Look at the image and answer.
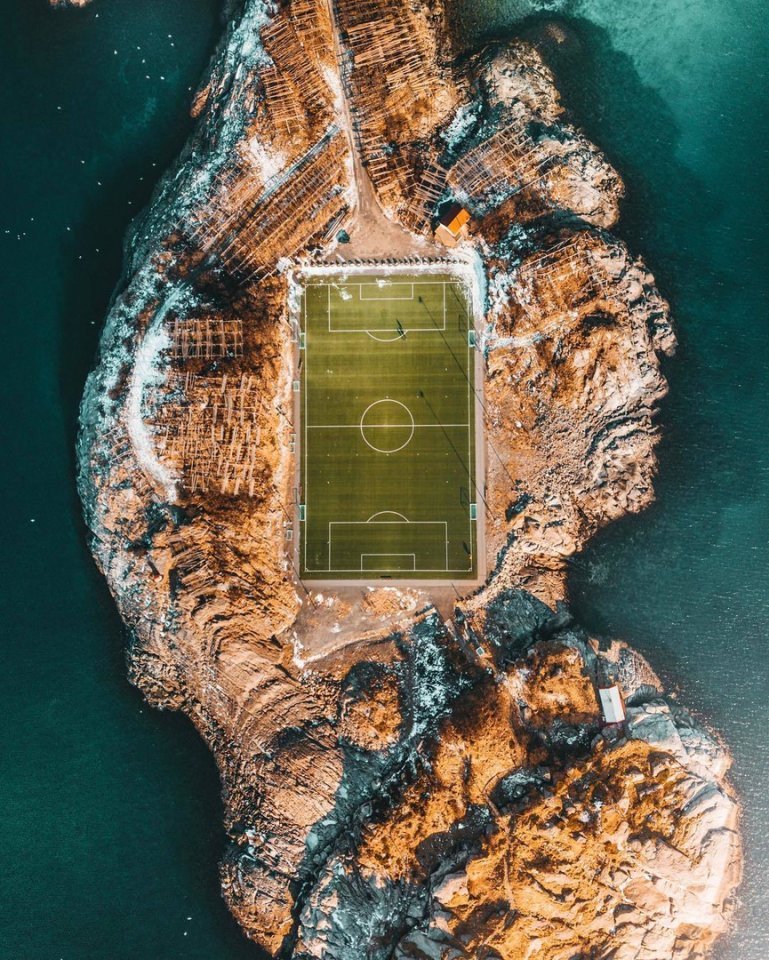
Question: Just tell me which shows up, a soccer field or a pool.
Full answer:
Of the two, only a soccer field appears.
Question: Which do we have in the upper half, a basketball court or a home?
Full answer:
The one visible in the upper half is a home.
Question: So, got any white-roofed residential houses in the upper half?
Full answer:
No, there is no white-roofed residential house in the upper half.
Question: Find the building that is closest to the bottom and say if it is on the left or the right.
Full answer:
The building that is closest to the bottom is on the right side of the image.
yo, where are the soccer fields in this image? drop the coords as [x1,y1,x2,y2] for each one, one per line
[295,275,487,589]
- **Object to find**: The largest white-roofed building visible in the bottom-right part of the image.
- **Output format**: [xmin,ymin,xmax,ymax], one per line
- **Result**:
[597,683,624,722]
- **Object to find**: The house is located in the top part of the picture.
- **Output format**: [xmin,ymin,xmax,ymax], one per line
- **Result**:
[440,207,470,246]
